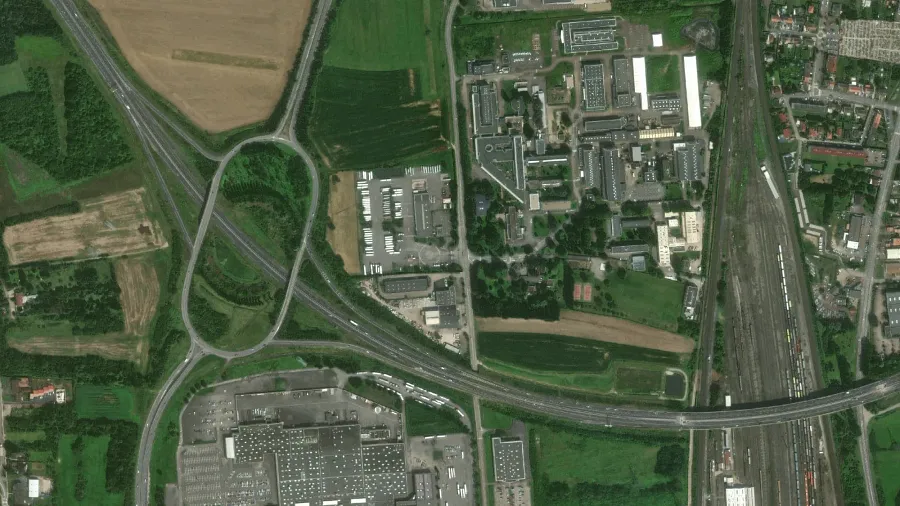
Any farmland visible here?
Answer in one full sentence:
Yes, farmland shows up in the scene.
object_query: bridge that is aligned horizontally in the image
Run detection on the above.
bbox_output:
[690,383,879,429]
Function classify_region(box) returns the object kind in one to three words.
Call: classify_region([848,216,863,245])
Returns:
house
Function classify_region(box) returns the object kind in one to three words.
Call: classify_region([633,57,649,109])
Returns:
building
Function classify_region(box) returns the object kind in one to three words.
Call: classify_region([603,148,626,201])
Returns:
building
